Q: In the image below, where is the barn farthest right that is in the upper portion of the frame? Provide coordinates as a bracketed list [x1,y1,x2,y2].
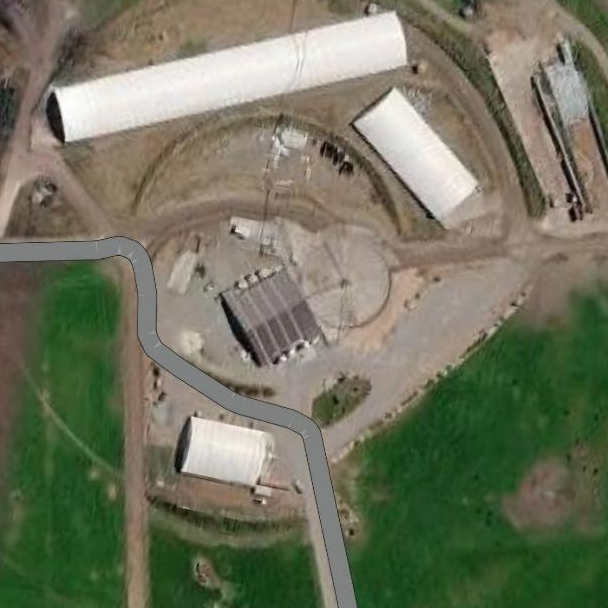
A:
[354,89,481,223]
